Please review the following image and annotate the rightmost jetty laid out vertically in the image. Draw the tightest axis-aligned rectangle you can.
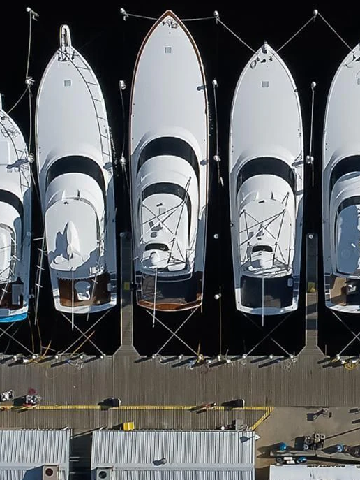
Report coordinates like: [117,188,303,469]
[296,232,328,355]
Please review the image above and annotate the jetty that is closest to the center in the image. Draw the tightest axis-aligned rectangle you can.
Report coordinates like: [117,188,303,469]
[110,232,145,355]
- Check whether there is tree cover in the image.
No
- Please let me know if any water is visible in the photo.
Yes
